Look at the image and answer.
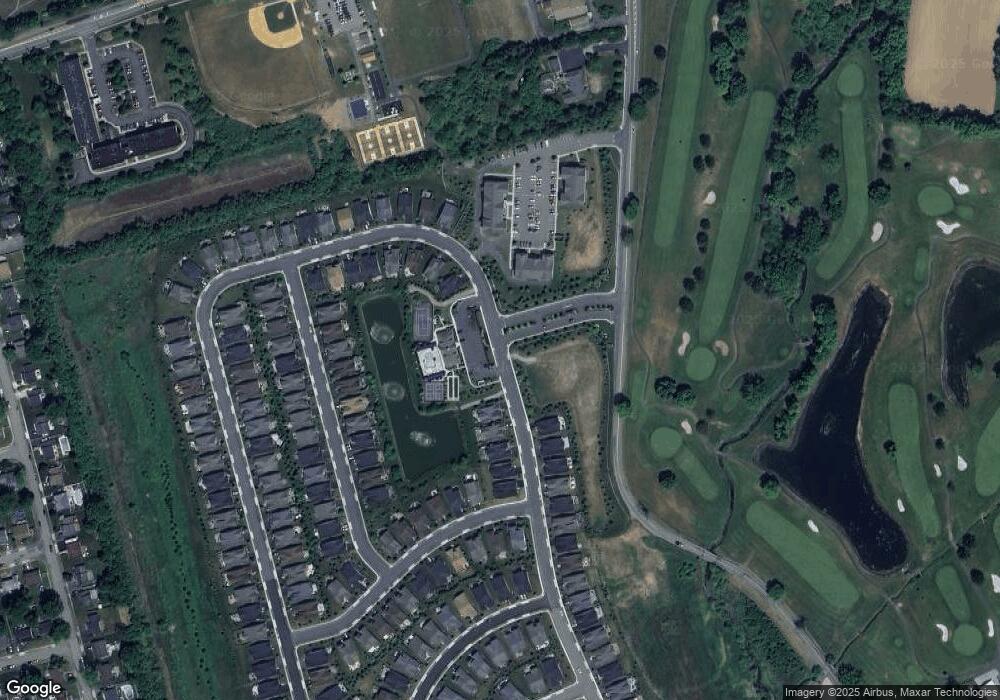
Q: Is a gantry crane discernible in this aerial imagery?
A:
No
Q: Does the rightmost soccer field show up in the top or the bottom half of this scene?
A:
top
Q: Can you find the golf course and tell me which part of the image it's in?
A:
right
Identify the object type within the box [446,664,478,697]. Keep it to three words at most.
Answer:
house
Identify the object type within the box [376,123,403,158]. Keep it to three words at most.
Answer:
basketball court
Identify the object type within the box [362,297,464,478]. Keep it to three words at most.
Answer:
pond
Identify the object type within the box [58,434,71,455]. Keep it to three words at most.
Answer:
swimming pool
